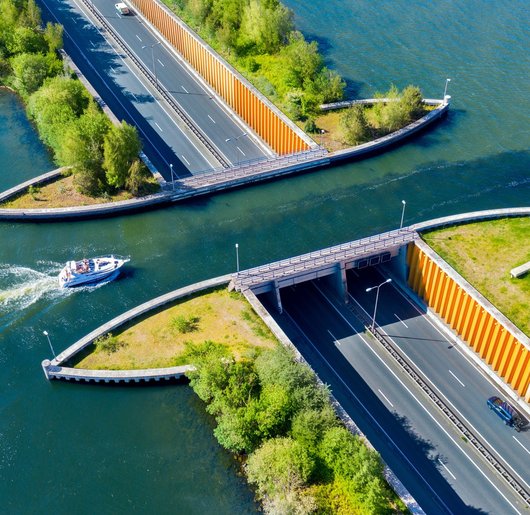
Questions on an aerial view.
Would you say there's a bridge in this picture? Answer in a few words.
Yes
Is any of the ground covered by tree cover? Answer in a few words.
Yes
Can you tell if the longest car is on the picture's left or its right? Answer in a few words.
right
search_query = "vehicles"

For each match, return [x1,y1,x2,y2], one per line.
[117,1,131,13]
[487,396,526,432]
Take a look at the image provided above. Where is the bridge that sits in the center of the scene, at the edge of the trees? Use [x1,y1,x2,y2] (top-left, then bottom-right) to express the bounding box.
[159,143,427,314]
